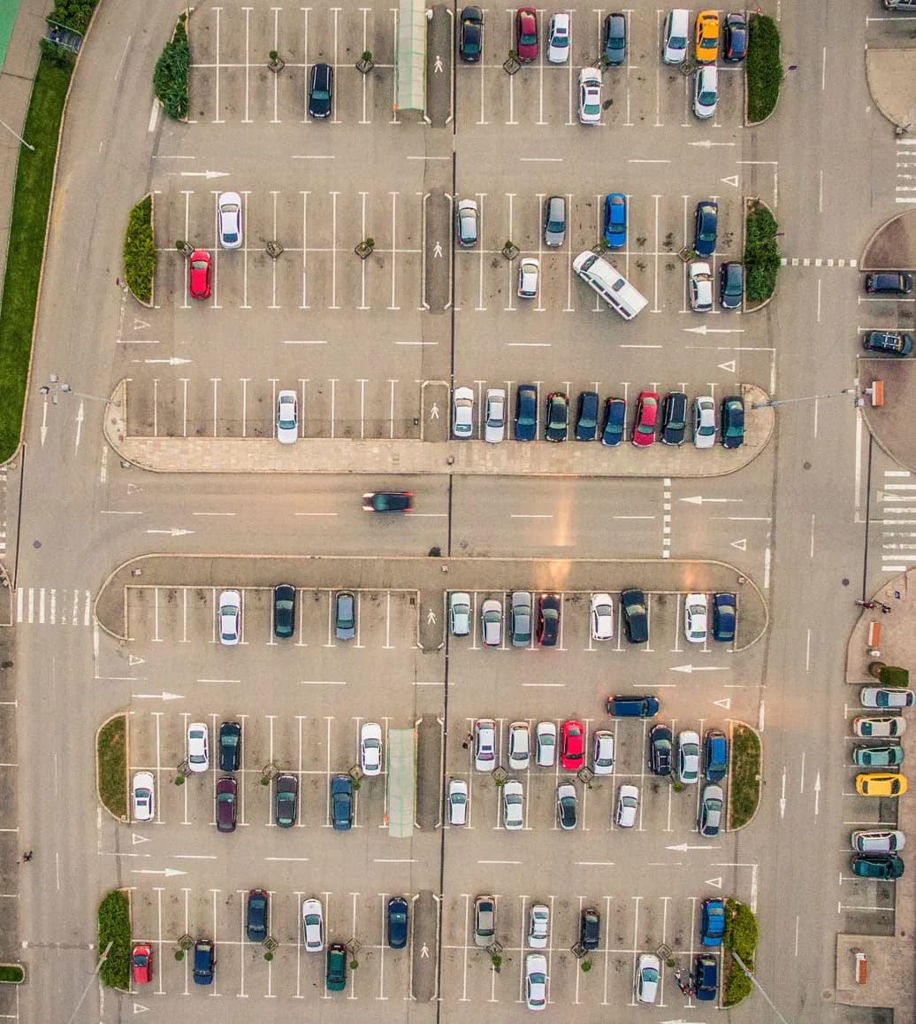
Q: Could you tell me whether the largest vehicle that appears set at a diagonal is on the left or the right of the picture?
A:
right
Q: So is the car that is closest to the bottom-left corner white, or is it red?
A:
red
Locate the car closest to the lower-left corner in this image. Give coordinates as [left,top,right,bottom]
[130,939,154,984]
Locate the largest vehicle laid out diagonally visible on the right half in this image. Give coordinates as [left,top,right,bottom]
[573,255,650,325]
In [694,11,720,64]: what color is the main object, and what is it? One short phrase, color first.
orange car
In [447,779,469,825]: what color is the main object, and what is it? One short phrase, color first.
white car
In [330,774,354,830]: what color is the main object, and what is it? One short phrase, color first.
blue car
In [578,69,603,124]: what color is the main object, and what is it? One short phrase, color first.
white car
